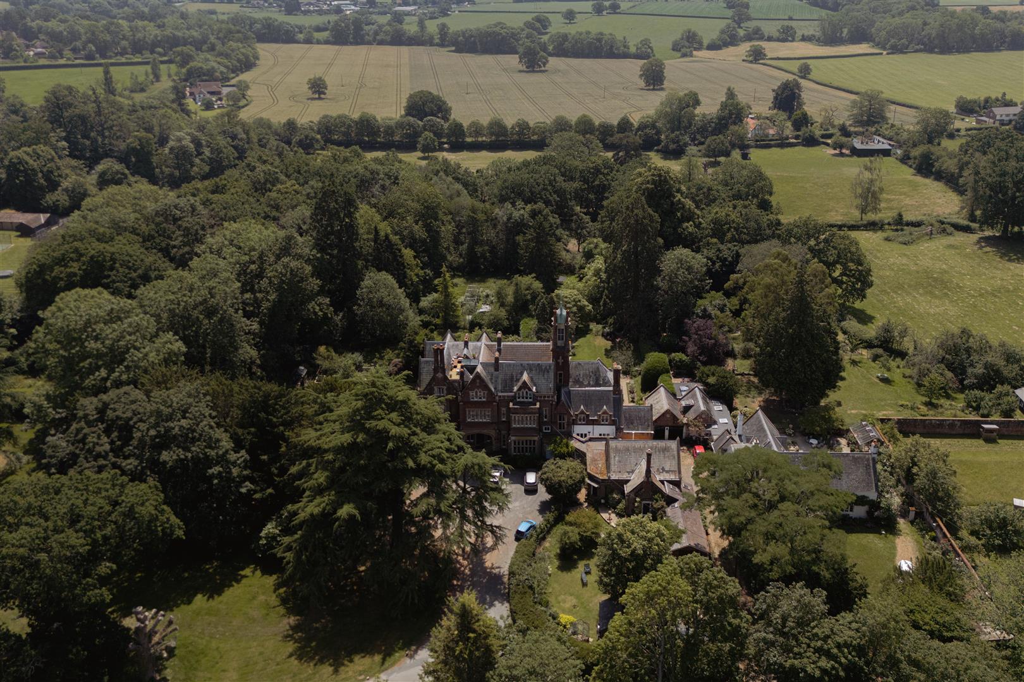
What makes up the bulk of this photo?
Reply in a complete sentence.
What you mostly see from above here is trees.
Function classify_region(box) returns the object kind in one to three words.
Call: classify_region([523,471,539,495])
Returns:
car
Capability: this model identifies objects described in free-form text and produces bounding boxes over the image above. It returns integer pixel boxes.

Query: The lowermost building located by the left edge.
[0,205,60,238]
